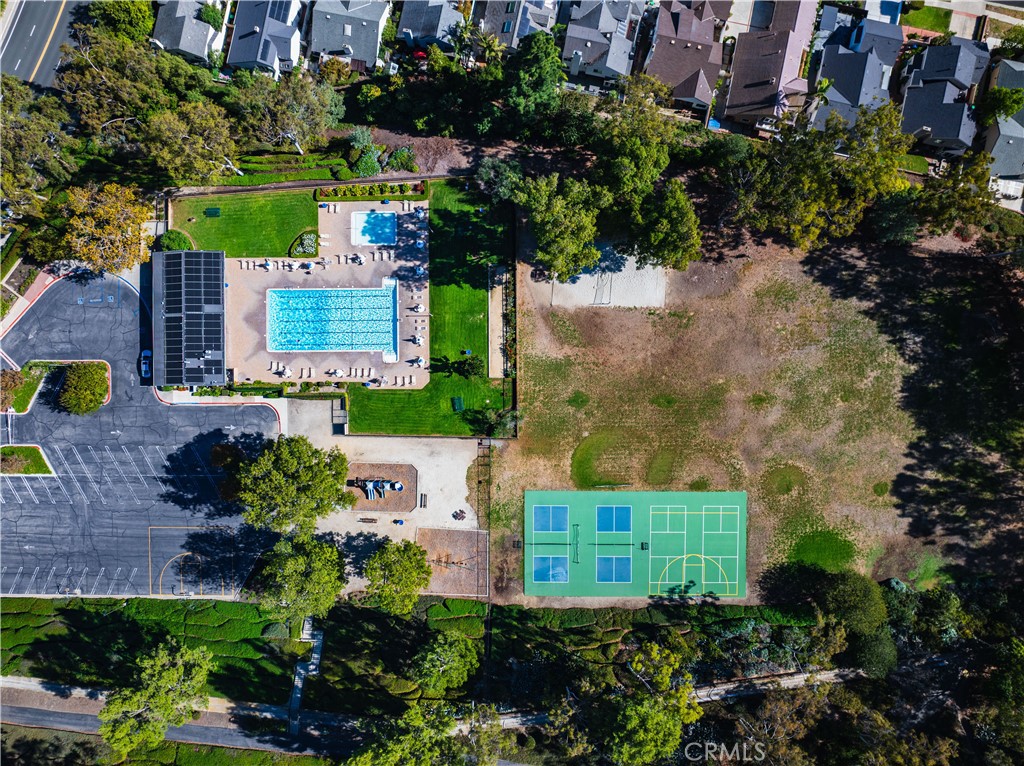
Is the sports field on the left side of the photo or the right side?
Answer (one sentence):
The sports field sits on the right side.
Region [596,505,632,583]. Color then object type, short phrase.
blue sports court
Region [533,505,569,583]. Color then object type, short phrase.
blue sports court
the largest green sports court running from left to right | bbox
[524,490,747,598]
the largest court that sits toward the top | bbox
[552,245,668,307]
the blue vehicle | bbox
[137,352,150,379]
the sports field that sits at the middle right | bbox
[489,232,1024,601]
